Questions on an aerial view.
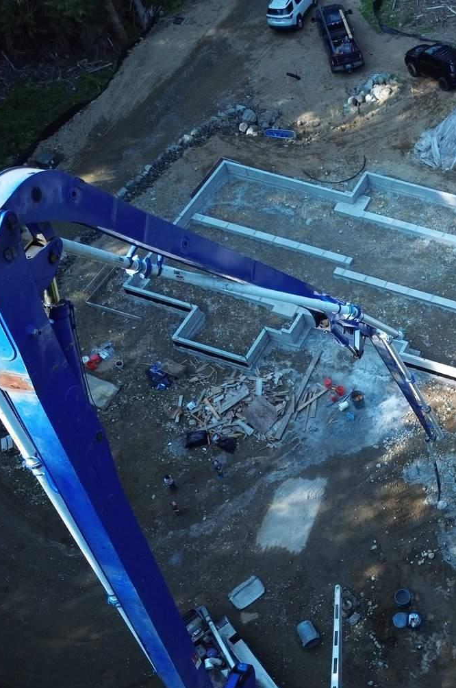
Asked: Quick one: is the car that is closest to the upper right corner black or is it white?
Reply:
black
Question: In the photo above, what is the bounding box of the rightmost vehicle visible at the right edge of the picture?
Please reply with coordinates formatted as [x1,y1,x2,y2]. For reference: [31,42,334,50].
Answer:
[400,44,456,93]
